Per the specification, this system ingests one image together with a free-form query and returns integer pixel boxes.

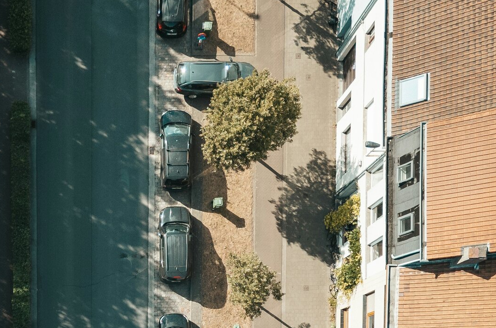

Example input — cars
[173,56,255,99]
[155,206,196,283]
[157,111,195,190]
[157,0,189,37]
[159,314,191,328]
